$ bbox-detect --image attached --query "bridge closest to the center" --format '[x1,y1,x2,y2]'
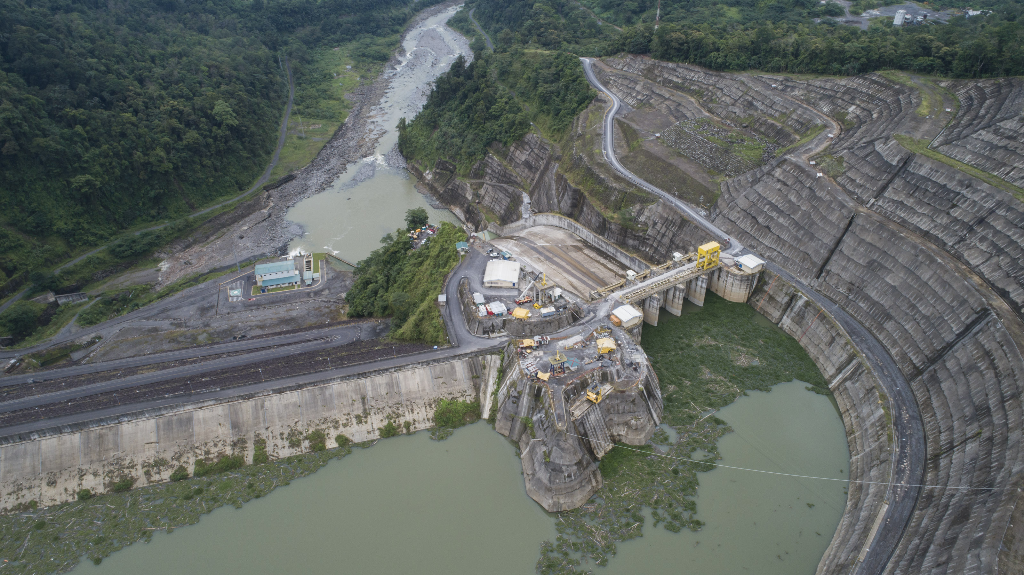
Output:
[586,256,725,311]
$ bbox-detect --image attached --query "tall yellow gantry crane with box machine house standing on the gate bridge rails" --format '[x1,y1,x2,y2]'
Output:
[698,240,723,271]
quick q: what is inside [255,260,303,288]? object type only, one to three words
building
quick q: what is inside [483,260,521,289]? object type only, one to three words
building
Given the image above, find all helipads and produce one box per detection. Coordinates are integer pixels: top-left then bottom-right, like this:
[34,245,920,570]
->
[228,281,244,301]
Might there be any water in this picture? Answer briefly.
Yes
